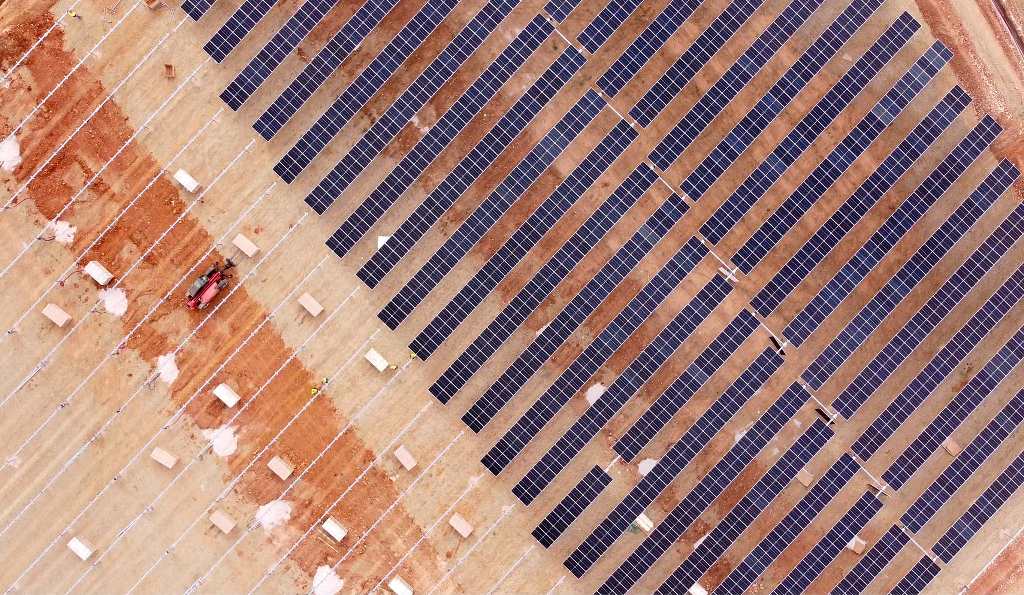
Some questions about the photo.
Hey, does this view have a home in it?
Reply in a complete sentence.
No, no home is visible in the view.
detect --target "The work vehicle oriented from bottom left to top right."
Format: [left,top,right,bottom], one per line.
[183,251,244,310]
